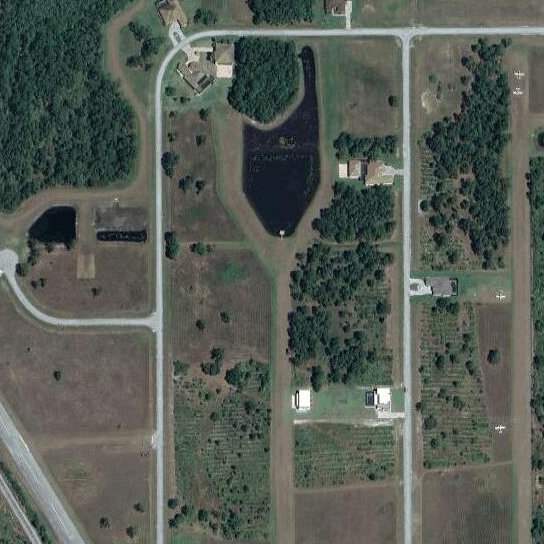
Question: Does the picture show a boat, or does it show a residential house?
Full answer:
Visible in the photo is a residential house.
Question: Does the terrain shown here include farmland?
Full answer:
Yes, the picture does contain farmland.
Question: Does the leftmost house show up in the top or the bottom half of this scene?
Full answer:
The leftmost house is in the top half of the image.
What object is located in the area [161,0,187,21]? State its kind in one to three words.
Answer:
house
